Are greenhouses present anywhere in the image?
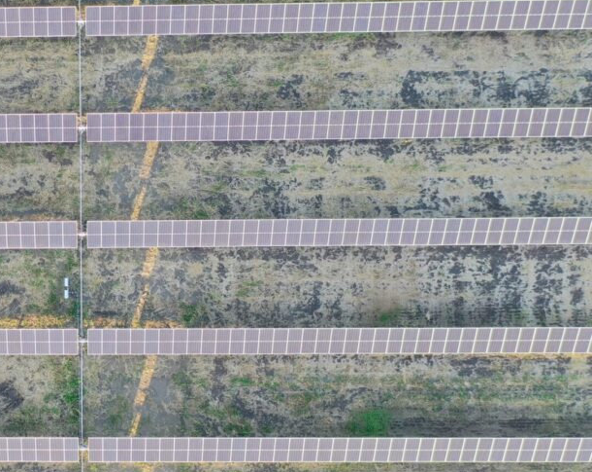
No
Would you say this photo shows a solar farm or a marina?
solar farm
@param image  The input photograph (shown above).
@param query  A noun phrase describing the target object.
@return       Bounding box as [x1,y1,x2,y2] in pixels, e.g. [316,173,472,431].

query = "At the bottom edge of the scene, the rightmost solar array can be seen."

[88,438,592,461]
